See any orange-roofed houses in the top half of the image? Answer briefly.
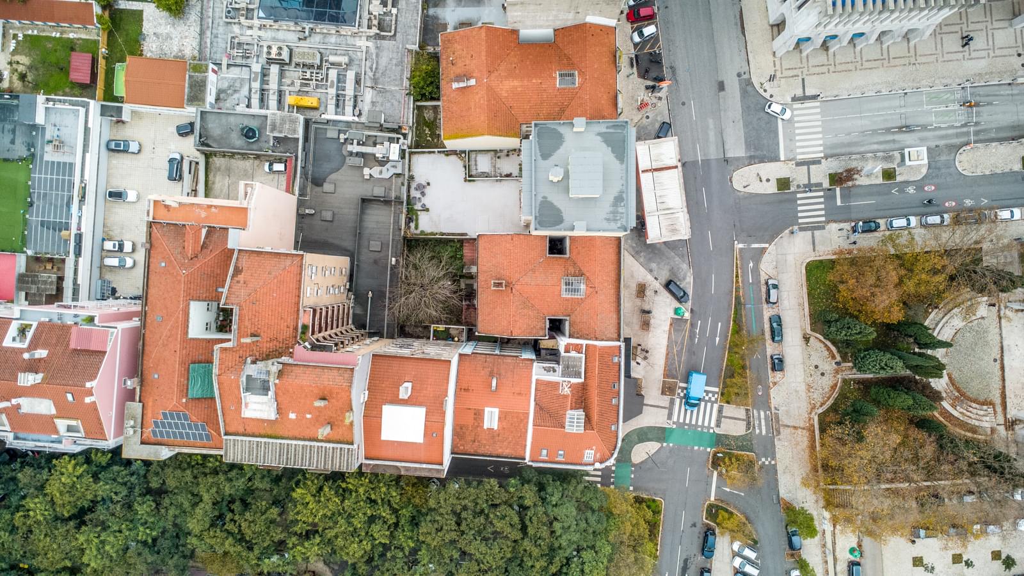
Yes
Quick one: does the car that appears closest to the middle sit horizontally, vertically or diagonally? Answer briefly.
diagonally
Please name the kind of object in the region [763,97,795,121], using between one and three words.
car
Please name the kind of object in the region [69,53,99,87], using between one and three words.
shed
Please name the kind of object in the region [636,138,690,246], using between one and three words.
building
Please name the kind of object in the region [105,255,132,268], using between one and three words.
vehicle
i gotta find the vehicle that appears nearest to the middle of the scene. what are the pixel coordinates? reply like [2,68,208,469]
[665,276,691,306]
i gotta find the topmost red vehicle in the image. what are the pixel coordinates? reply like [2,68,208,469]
[627,4,658,21]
